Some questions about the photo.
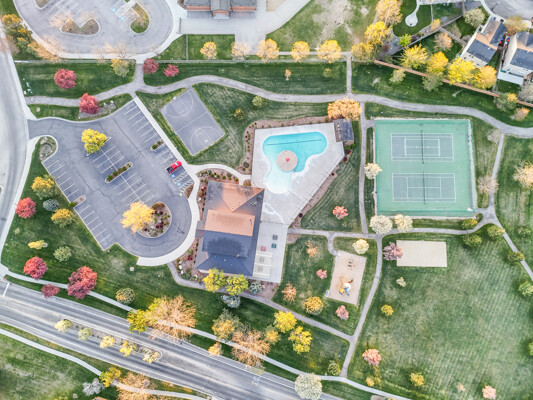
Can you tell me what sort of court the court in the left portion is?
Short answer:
basketball court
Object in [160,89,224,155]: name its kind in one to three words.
basketball court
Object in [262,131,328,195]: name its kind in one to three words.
swimming pool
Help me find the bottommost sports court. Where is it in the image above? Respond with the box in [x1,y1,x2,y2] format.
[396,240,447,268]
